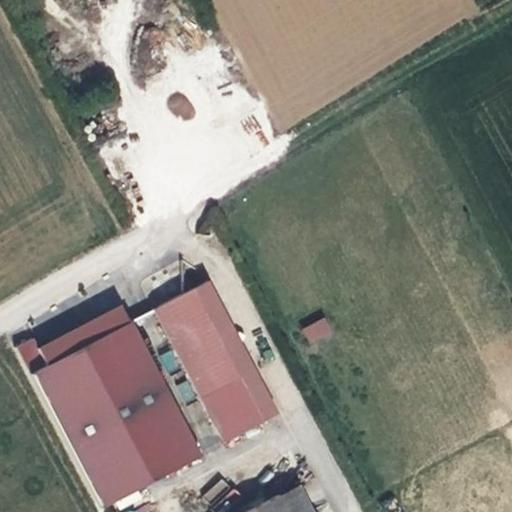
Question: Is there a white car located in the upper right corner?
No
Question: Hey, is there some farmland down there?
Yes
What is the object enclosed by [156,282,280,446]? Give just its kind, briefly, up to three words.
barn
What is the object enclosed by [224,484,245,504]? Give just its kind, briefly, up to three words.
car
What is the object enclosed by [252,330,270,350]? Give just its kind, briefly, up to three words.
work vehicle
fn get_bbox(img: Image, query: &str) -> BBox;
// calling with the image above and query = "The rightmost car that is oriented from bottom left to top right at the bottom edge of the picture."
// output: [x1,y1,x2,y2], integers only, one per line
[257,468,278,487]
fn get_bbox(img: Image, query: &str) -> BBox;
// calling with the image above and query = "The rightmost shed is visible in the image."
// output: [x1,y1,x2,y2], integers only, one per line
[302,318,332,345]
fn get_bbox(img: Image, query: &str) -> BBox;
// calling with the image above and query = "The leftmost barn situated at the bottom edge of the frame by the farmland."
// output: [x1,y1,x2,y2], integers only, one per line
[36,322,204,508]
